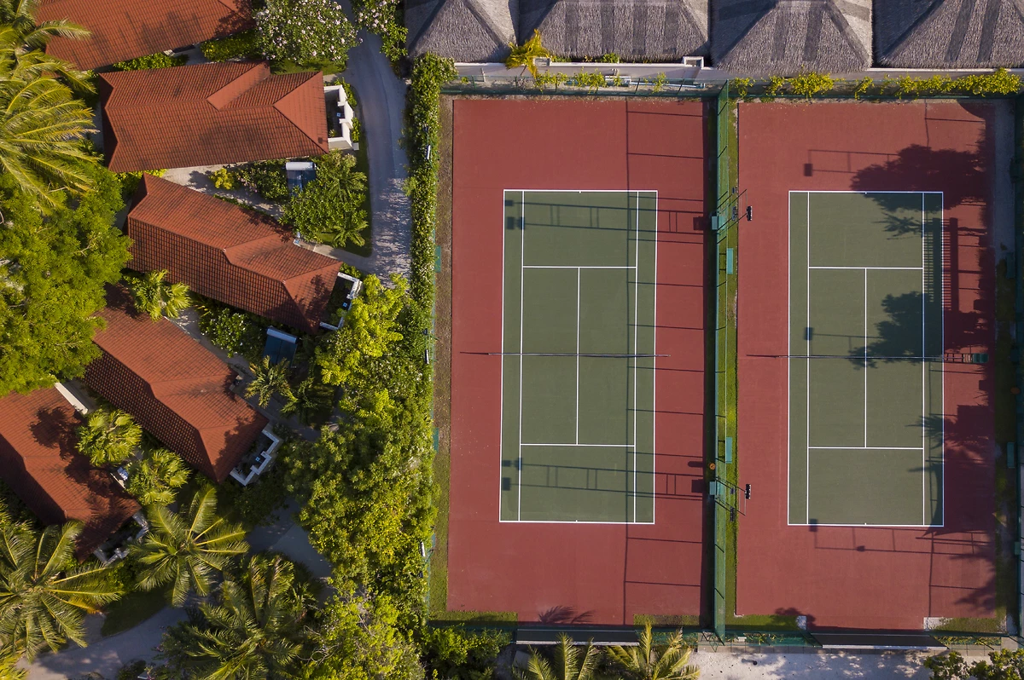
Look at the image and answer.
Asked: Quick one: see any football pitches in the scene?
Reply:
No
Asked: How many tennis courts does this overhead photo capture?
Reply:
2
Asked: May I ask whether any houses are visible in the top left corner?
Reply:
Yes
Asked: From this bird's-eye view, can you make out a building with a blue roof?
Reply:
No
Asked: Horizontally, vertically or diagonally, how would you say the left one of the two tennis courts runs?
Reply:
vertically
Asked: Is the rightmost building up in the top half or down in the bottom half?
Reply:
top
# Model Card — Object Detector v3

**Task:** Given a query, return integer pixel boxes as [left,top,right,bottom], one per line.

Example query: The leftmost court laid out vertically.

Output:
[449,99,708,628]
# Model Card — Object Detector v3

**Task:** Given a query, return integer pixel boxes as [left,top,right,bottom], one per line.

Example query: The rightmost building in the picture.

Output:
[872,0,1024,69]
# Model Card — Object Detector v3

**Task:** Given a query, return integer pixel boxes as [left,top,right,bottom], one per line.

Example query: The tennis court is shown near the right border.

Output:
[736,102,996,630]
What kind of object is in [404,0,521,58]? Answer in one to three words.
building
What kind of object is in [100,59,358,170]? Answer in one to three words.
house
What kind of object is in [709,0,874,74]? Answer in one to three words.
building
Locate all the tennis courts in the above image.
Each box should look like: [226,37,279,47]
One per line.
[736,102,996,630]
[449,99,708,628]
